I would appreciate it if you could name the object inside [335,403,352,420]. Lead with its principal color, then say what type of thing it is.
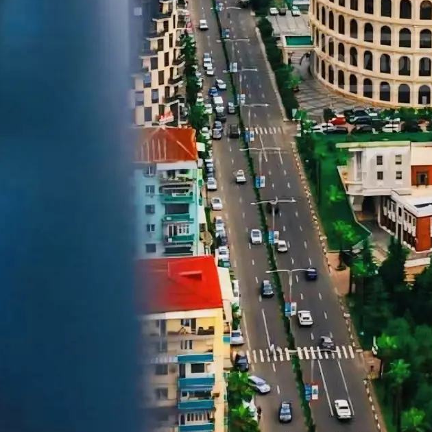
white car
